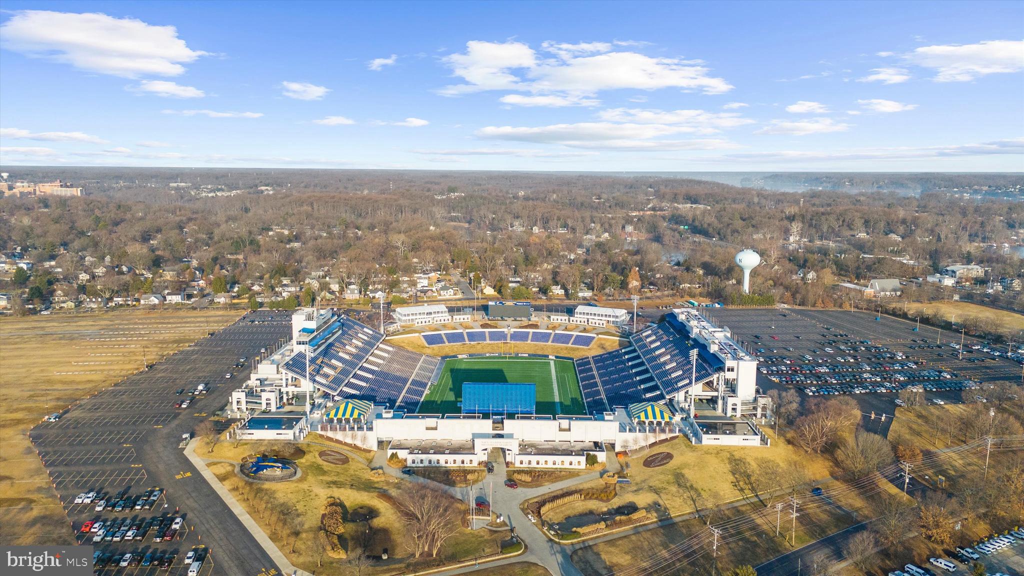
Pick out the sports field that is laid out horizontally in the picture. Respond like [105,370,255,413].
[419,351,582,417]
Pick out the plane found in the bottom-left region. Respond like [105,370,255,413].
[245,448,286,473]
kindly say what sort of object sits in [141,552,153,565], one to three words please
vehicle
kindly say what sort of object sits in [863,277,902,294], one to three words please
building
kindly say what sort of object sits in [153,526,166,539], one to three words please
vehicle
